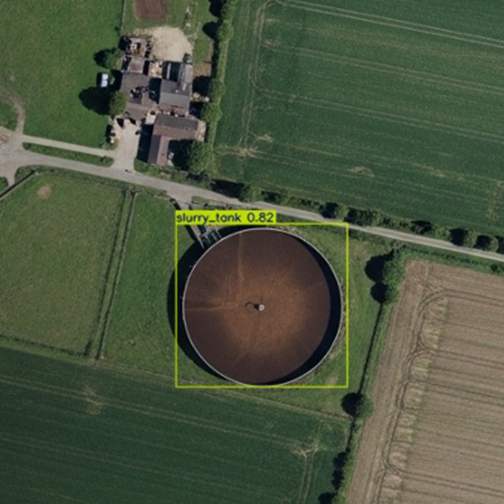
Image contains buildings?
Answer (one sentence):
Yes, a building is visible in the scene.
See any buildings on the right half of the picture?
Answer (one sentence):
No, I can find no building on the right half of the picture.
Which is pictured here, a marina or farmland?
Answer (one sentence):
The picture captures farmland.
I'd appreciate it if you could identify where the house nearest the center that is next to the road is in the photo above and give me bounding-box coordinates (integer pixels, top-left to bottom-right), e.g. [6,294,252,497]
[147,113,200,167]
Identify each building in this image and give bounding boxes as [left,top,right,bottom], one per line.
[147,113,200,167]
[122,71,157,120]
[159,61,195,113]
